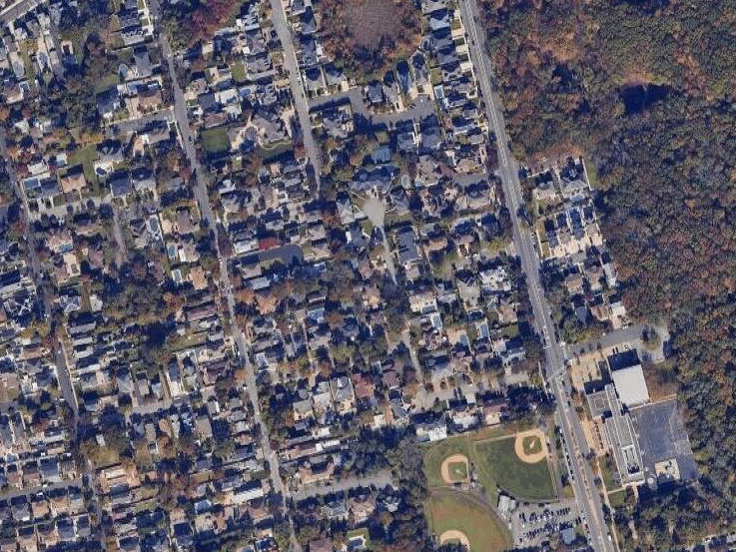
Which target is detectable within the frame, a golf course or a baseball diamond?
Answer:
baseball diamond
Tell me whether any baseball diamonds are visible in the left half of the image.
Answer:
No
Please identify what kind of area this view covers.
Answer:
residential area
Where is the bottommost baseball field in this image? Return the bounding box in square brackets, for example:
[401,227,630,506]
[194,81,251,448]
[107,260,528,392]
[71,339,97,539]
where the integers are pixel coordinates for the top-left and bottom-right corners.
[425,491,513,552]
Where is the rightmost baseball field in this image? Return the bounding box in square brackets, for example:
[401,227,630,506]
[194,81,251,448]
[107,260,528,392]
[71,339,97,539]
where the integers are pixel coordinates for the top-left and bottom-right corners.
[471,429,563,501]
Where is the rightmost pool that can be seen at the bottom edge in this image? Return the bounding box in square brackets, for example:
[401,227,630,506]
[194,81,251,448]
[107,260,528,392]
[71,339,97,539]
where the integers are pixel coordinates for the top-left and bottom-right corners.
[347,534,365,550]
